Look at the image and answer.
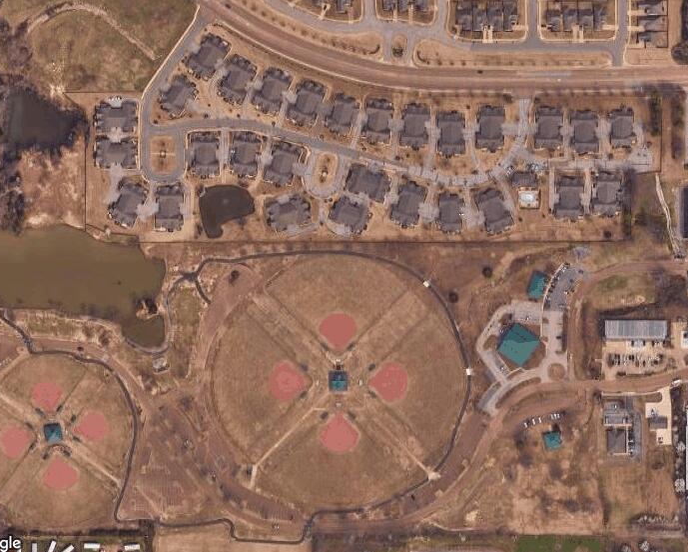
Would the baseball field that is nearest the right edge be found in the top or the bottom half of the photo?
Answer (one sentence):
Seen from above, the baseball field that is nearest the right edge lies in the bottom half of the view.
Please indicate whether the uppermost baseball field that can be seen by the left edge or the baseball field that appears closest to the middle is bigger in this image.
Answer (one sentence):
The baseball field that appears closest to the middle is larger than the uppermost baseball field that can be seen by the left edge.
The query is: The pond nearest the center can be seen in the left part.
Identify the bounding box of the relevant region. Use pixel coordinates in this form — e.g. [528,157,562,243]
[200,185,254,236]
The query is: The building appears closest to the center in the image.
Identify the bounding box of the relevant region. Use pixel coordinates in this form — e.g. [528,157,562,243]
[330,194,369,236]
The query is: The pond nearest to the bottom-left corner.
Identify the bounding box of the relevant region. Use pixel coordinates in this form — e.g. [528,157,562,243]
[0,226,165,348]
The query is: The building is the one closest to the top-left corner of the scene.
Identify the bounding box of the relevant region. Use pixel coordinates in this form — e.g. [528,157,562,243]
[95,100,139,132]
